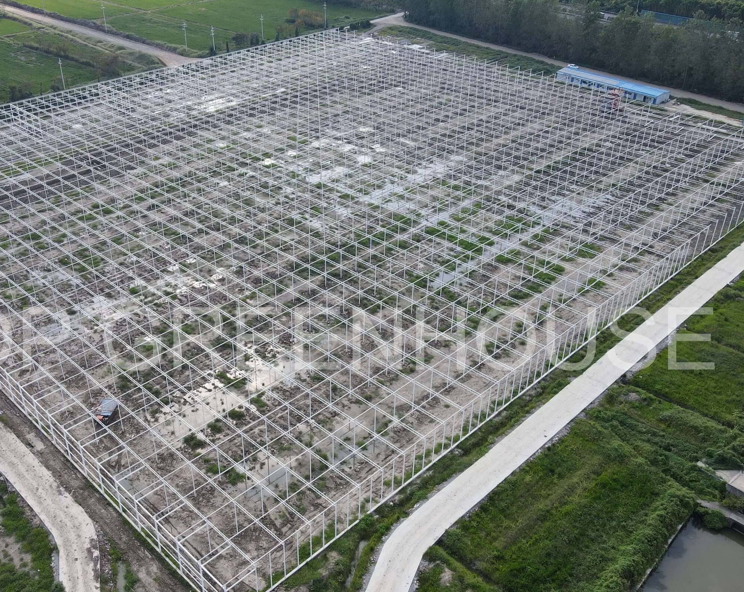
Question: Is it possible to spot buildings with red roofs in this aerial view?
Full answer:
No, there isn't any building with a red roof down there.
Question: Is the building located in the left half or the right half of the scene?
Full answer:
It is on the right.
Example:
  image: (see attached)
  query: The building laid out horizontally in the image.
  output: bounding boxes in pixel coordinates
[553,67,673,105]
